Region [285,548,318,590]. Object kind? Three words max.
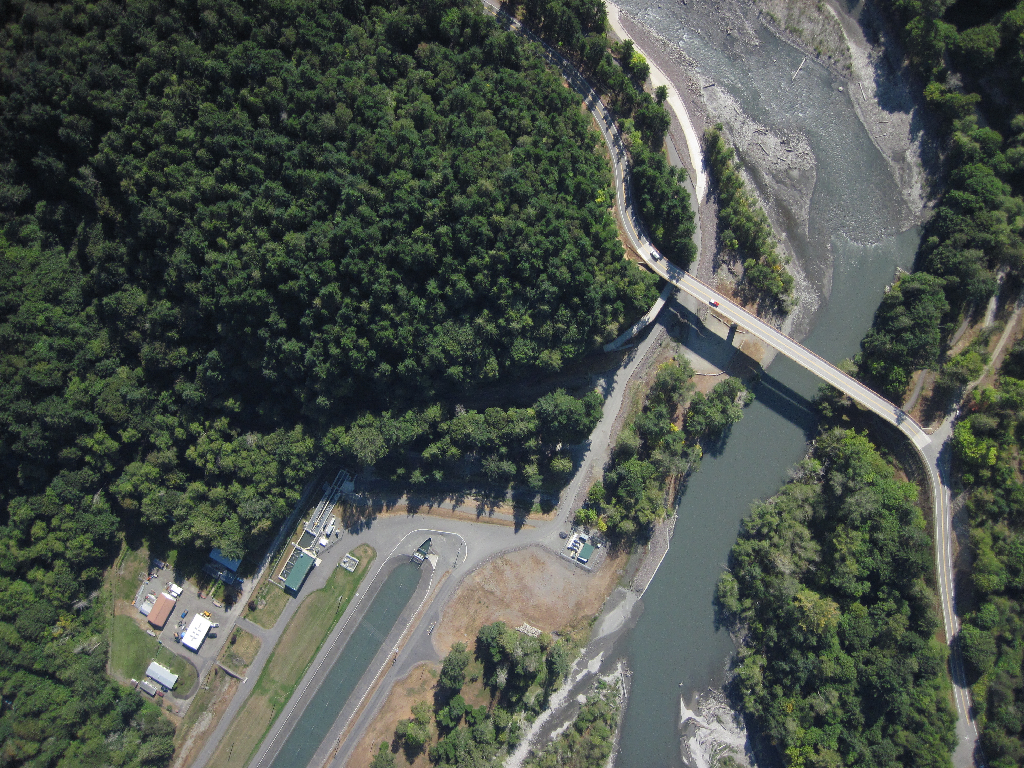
building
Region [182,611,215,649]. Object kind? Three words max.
building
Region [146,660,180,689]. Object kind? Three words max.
house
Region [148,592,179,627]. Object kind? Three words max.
shed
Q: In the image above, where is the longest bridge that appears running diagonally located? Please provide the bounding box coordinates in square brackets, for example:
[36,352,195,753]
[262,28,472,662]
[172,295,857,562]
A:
[637,242,933,449]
